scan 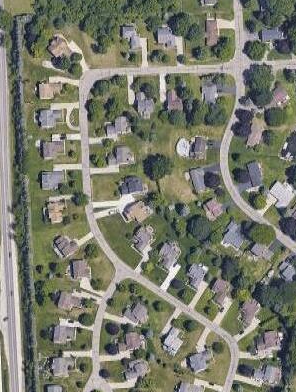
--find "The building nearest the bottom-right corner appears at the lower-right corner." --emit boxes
[253,363,280,381]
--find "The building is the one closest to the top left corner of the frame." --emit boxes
[47,35,71,57]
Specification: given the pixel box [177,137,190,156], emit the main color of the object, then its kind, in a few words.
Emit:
white swimming pool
